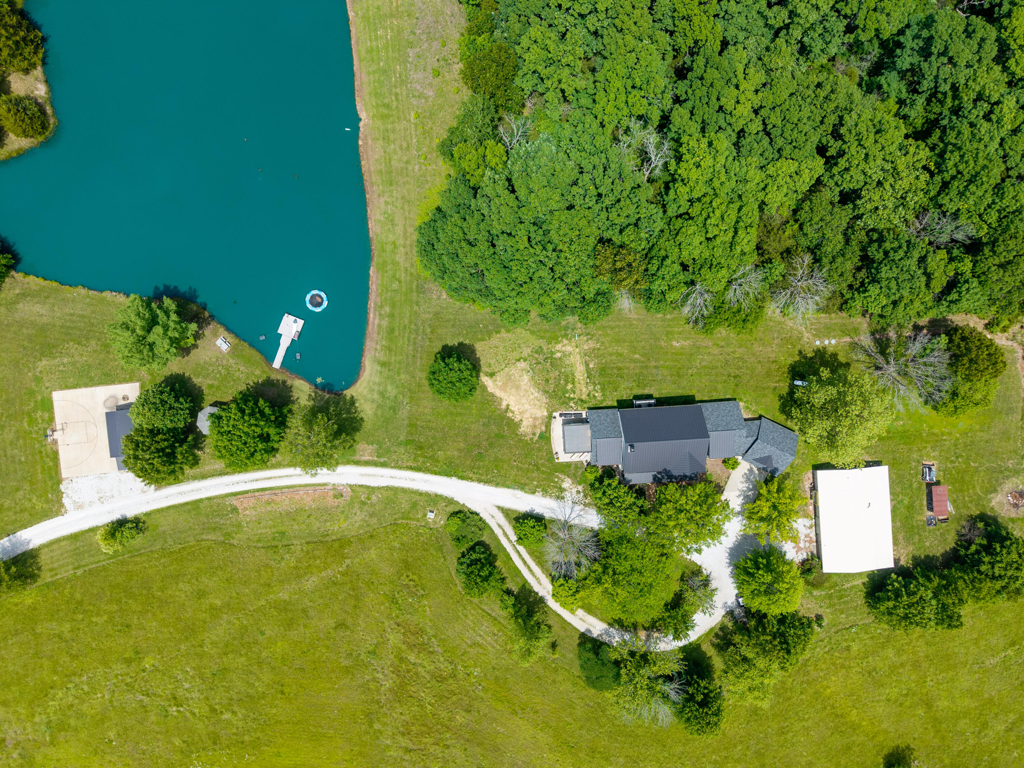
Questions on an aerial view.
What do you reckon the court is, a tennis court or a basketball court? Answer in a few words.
basketball court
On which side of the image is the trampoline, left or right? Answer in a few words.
left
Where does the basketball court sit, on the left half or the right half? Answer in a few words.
left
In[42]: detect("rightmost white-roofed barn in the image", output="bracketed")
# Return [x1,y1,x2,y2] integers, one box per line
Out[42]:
[811,466,894,573]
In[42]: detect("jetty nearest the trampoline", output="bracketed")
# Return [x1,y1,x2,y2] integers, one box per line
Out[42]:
[272,313,305,369]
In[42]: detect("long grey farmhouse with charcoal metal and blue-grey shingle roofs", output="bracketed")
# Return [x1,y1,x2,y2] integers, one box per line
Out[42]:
[588,399,798,483]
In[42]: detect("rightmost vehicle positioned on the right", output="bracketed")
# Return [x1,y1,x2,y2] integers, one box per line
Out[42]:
[920,461,937,484]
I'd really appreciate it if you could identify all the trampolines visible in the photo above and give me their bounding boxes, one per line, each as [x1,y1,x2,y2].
[306,290,328,312]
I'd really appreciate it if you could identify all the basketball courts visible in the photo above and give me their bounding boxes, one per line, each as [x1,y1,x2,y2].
[52,383,148,478]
